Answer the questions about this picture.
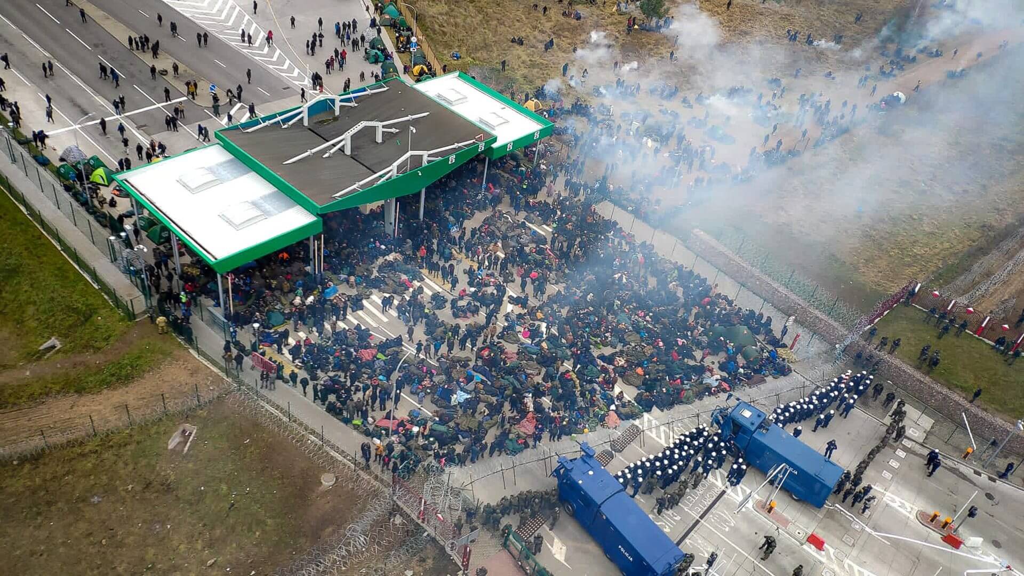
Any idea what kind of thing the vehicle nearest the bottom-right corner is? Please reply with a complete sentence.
What you see as the vehicle nearest the bottom-right corner is a truck.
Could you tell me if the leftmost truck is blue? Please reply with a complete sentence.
Yes, the leftmost truck is indeed blue.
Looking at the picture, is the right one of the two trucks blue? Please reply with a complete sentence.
Yes, blue is the color of the right one of the two trucks.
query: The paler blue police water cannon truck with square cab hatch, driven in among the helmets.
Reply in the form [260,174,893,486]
[714,397,845,510]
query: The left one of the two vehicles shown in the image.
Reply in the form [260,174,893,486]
[549,447,685,576]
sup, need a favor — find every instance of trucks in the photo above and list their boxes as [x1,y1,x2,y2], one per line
[549,447,685,576]
[714,397,845,510]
